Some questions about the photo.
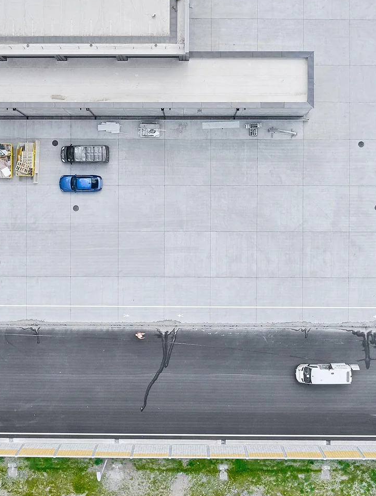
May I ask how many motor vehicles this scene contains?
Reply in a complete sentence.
Looking from above, you can make out 3 motor vehicles.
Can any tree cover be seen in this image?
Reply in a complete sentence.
No, tree cover can't be seen anywhere here.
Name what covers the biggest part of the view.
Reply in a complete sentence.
The bulk of the photo consists of paved ground.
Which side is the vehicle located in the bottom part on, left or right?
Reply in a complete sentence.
It is on the right.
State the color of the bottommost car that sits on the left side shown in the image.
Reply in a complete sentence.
The color of the bottommost car that sits on the left side is blue.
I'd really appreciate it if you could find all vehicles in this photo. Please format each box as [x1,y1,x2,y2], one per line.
[60,173,103,194]
[295,363,360,386]
[61,143,110,165]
